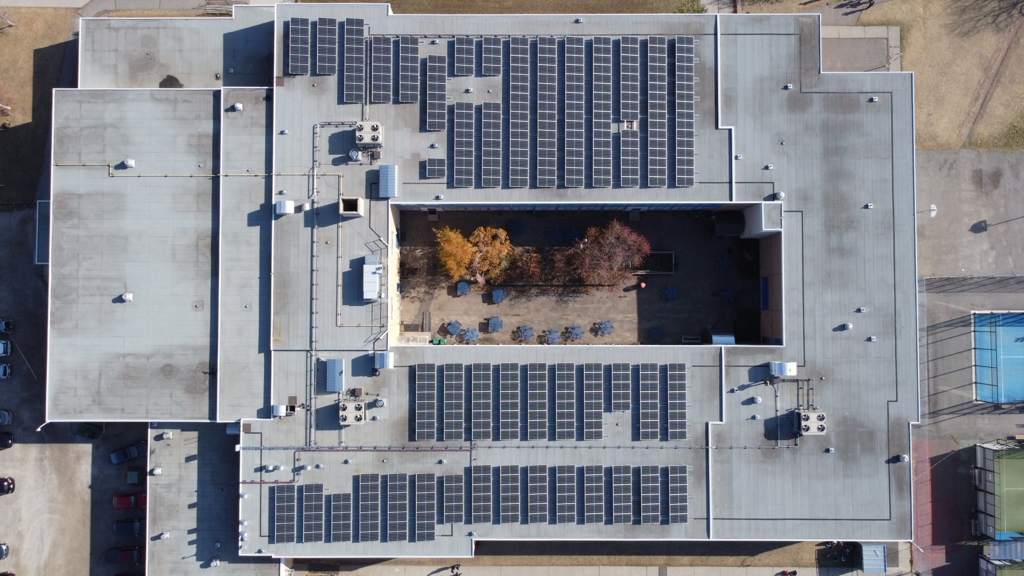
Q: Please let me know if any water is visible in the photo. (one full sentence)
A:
No, the scene doesn't show any water.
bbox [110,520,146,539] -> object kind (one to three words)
car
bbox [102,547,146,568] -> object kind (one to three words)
truck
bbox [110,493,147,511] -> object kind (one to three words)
car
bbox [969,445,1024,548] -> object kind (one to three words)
sports court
